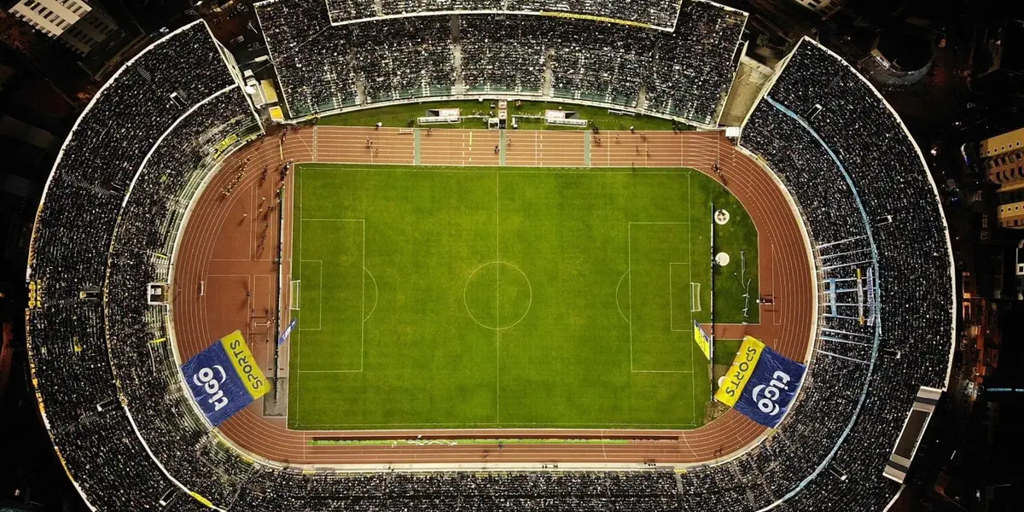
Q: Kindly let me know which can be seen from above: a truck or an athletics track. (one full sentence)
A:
The image shows an athletics track.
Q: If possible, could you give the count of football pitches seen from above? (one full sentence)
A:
Only 1 football pitch is visible.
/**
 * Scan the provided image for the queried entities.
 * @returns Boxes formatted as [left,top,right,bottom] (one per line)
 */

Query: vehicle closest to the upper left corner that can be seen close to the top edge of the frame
[154,23,172,35]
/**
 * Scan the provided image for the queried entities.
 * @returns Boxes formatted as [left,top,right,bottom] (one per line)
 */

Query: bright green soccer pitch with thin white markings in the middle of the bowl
[286,100,761,432]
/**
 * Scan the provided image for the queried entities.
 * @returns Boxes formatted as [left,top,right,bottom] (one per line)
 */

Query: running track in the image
[173,126,813,463]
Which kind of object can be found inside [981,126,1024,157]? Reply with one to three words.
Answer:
building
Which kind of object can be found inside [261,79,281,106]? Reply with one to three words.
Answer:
shed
